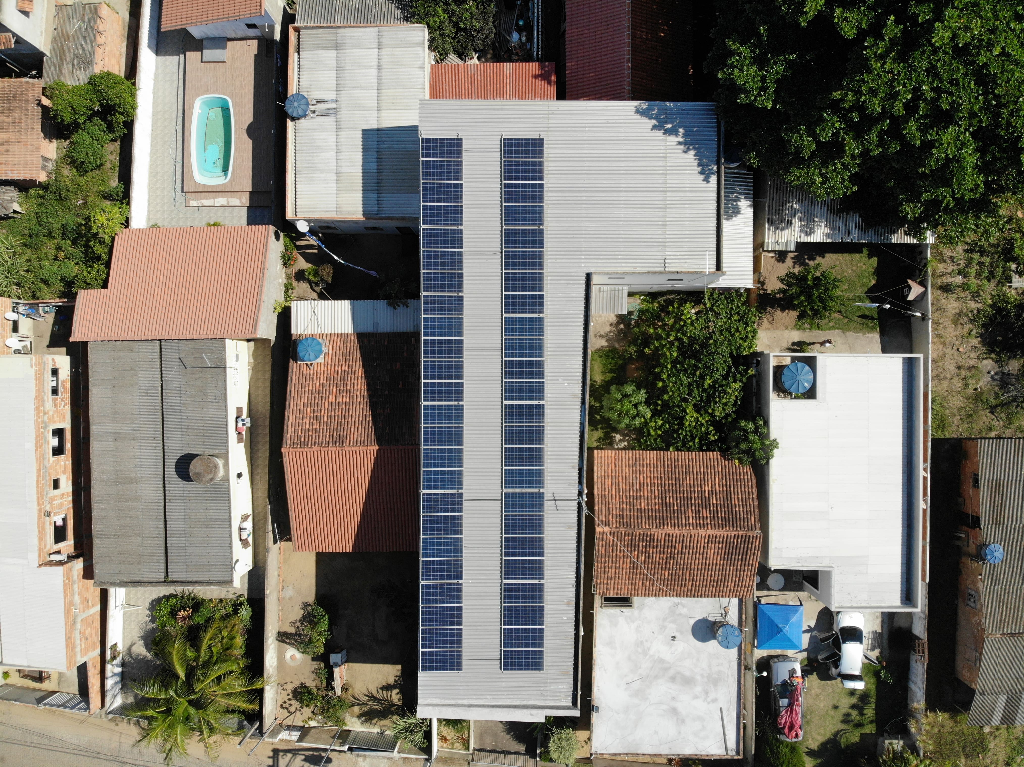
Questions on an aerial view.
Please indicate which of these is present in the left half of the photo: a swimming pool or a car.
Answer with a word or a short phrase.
swimming pool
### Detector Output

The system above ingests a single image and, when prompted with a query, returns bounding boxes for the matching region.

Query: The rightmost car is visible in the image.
[812,611,882,697]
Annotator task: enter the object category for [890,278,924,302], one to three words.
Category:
shed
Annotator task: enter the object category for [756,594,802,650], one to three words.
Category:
tent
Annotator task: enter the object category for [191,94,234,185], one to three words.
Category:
swimming pool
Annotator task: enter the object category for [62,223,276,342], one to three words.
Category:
house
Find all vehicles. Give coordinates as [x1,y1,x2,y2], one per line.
[763,653,809,741]
[812,611,882,697]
